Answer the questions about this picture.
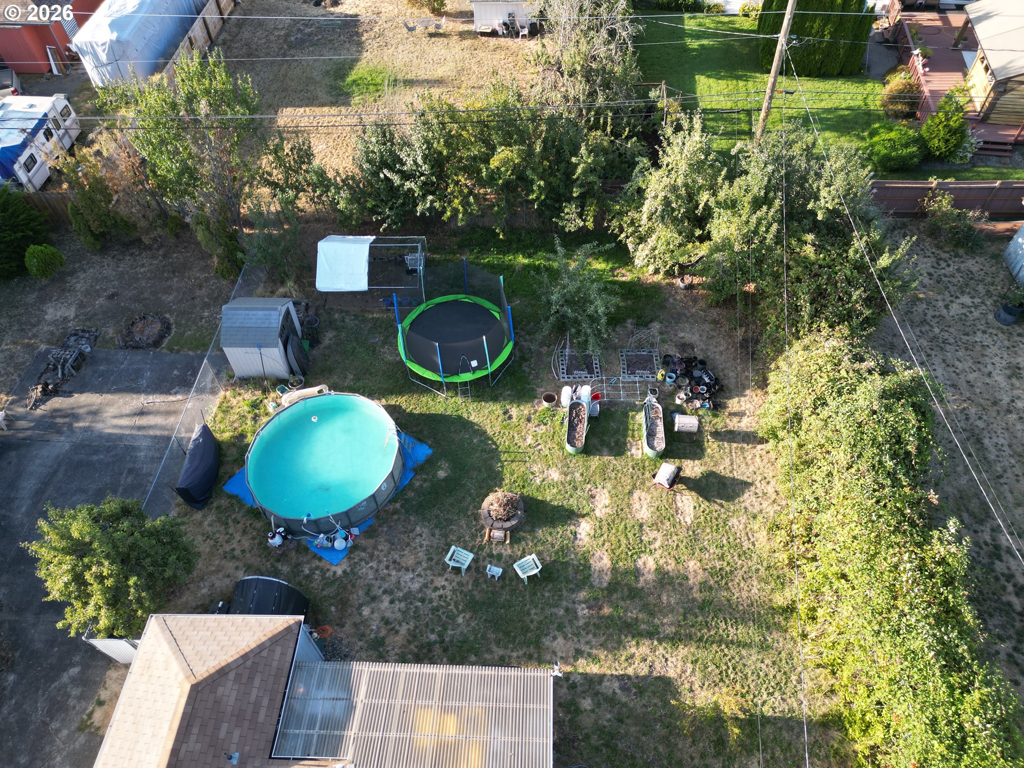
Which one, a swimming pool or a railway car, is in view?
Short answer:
swimming pool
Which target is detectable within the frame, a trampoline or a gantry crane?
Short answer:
trampoline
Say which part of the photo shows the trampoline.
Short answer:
center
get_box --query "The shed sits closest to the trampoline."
[220,296,300,377]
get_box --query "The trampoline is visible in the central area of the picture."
[392,257,516,395]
